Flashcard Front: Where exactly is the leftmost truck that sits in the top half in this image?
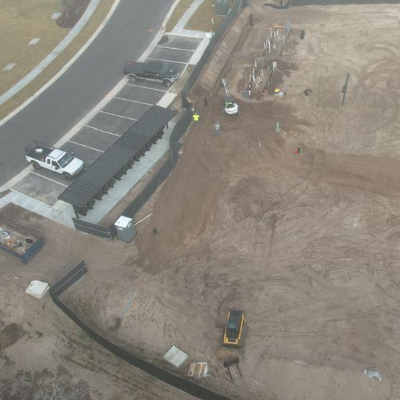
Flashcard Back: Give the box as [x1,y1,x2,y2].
[23,142,86,177]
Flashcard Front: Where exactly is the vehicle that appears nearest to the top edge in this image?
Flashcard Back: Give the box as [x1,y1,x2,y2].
[122,62,181,86]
